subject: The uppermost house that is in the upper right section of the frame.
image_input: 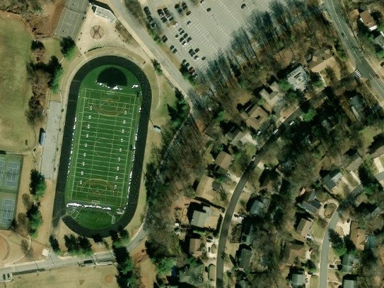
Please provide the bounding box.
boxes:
[357,7,380,32]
